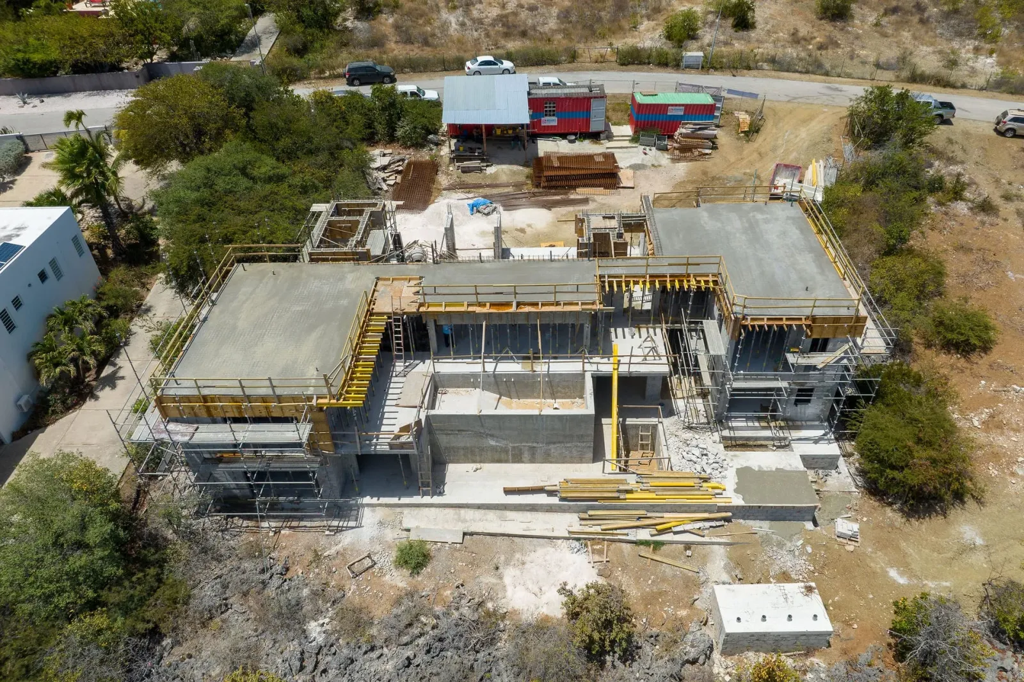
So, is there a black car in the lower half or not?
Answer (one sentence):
No, looking in the lower half, there is no black car.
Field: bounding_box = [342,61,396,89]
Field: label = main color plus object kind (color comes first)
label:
black car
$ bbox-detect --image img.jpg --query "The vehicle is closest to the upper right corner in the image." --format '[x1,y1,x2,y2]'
[995,102,1024,134]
